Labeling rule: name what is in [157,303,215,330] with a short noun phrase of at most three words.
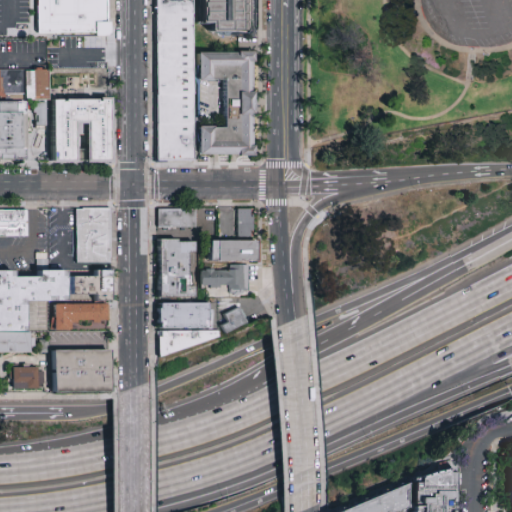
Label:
building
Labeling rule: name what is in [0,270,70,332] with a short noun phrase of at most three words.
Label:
building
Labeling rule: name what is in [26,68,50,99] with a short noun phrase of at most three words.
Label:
house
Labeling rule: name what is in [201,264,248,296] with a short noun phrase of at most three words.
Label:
house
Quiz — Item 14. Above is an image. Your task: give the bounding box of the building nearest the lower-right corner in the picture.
[418,468,462,512]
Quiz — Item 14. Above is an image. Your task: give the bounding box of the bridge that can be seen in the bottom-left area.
[113,380,158,512]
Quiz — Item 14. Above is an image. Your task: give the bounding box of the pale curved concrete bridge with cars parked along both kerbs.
[271,314,326,506]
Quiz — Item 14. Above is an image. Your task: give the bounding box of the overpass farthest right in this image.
[466,236,512,273]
